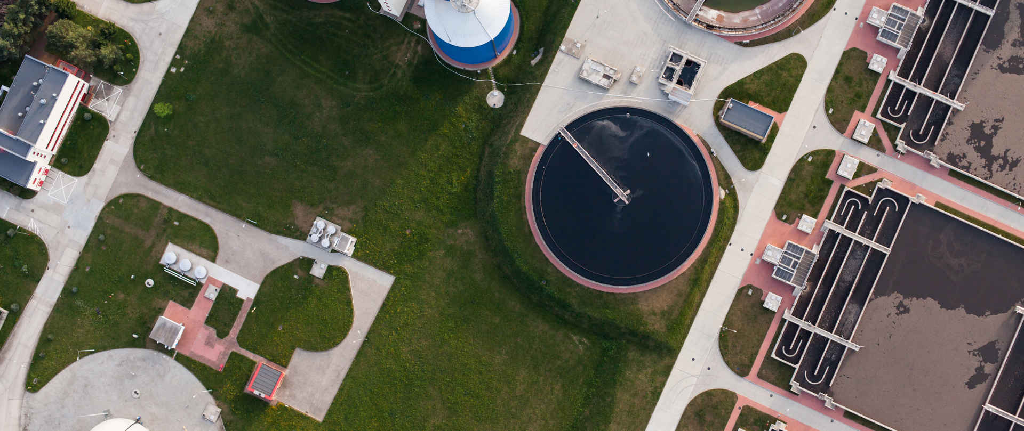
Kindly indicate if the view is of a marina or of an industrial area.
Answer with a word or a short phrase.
industrial area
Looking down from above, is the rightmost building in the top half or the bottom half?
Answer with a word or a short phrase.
top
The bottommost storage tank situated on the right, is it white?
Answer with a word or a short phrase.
No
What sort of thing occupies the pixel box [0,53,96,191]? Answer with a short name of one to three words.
building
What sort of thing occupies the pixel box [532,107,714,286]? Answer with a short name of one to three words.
storage tank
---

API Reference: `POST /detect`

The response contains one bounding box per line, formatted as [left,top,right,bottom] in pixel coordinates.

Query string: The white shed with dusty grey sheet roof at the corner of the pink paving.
[150,315,189,350]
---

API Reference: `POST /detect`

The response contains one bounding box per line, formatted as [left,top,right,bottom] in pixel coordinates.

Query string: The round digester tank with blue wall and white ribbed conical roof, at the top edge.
[427,0,514,63]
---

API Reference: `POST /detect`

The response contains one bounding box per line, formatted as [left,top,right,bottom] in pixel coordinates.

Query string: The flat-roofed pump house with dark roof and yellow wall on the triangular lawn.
[721,98,774,139]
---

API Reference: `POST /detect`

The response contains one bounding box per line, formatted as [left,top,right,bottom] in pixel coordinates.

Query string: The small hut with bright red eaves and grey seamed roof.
[248,363,286,401]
